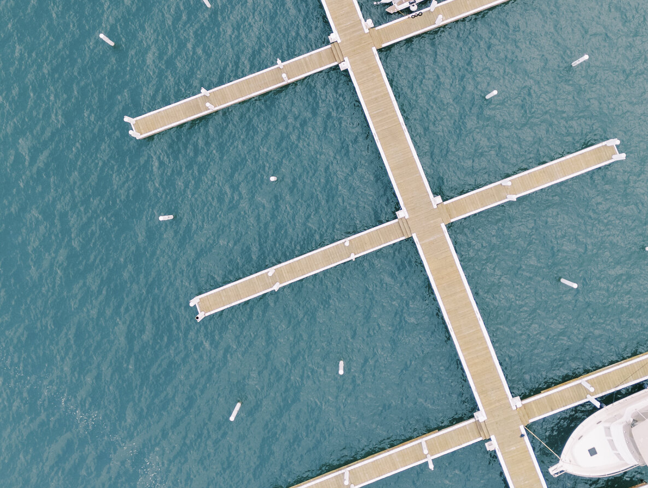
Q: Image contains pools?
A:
No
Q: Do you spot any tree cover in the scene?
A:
No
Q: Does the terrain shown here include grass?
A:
No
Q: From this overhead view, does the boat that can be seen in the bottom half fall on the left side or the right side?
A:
right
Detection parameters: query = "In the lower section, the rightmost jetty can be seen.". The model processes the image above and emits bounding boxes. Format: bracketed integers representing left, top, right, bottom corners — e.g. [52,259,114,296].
[516,350,648,425]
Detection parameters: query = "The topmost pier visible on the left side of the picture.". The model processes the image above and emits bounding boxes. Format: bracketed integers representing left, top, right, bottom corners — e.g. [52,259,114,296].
[131,42,344,138]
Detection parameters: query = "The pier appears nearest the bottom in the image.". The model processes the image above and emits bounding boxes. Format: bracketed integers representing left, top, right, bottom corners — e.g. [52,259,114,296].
[287,417,489,488]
